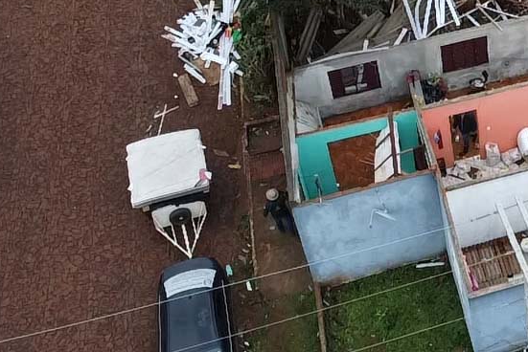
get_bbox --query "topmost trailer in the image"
[121,121,210,251]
